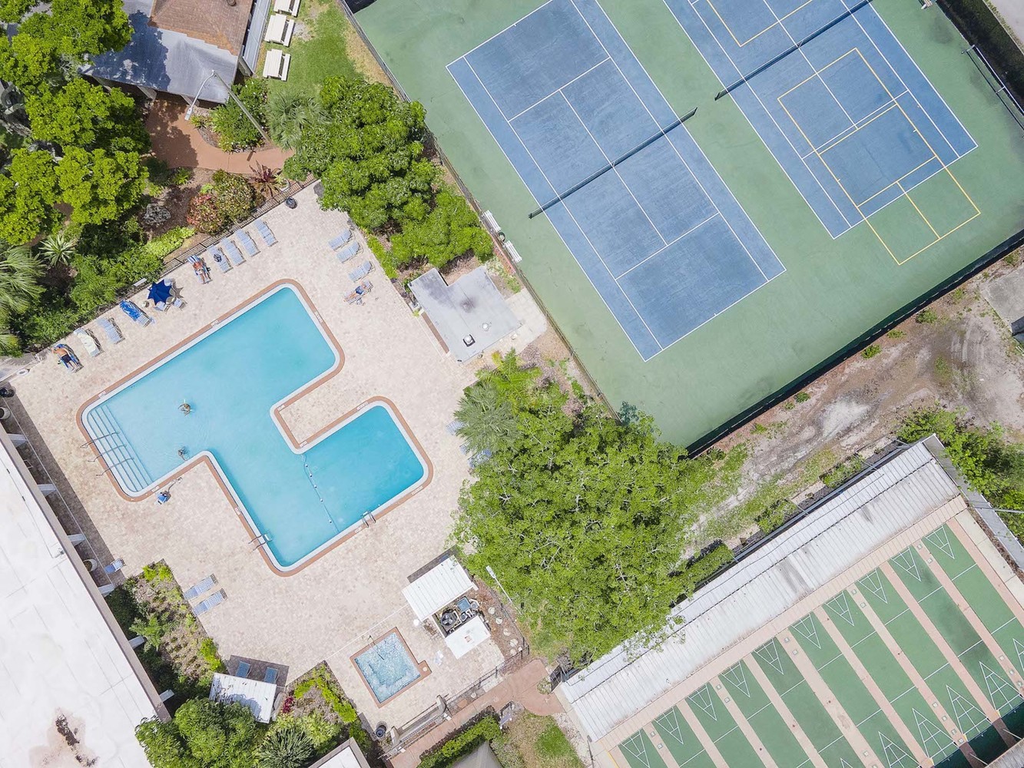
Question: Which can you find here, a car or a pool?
pool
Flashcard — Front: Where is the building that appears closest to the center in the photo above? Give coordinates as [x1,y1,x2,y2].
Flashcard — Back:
[409,267,523,362]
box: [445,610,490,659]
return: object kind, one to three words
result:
shed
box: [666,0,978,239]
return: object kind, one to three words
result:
tennis court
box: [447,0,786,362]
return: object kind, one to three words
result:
tennis court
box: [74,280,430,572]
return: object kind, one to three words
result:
swimming pool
